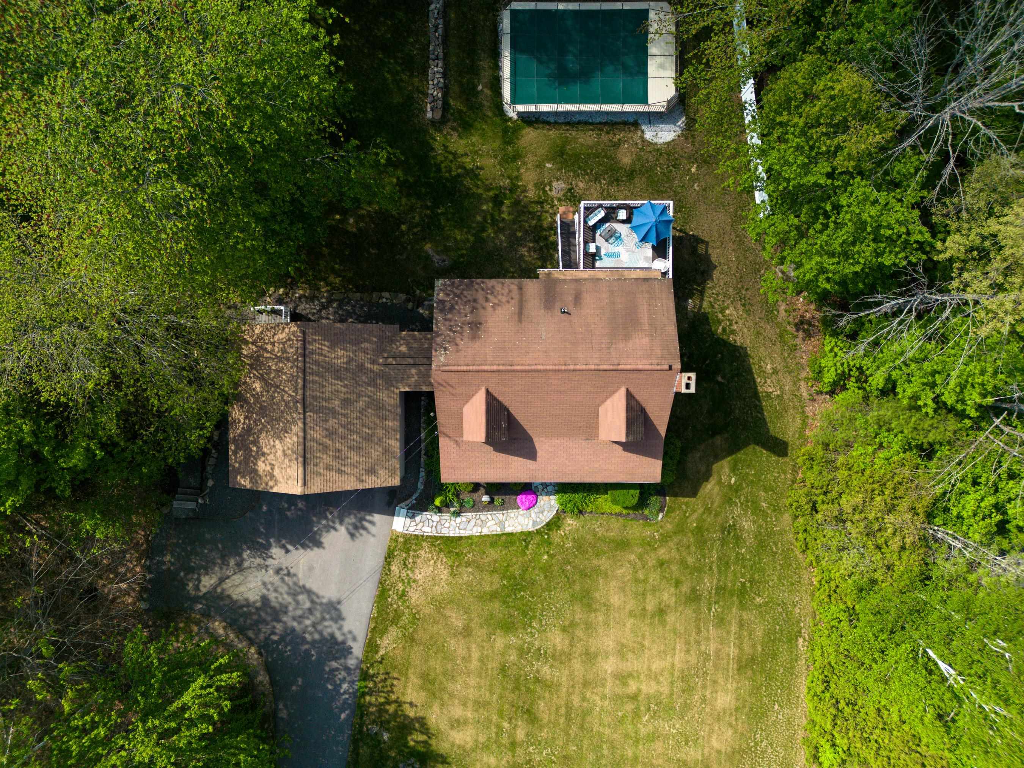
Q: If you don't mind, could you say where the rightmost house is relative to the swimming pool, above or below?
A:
below it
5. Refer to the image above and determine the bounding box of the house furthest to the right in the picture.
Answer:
[432,269,695,483]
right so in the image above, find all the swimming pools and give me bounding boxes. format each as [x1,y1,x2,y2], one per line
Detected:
[503,0,680,116]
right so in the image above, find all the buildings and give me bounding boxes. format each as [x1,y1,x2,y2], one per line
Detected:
[432,269,695,483]
[229,321,405,494]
